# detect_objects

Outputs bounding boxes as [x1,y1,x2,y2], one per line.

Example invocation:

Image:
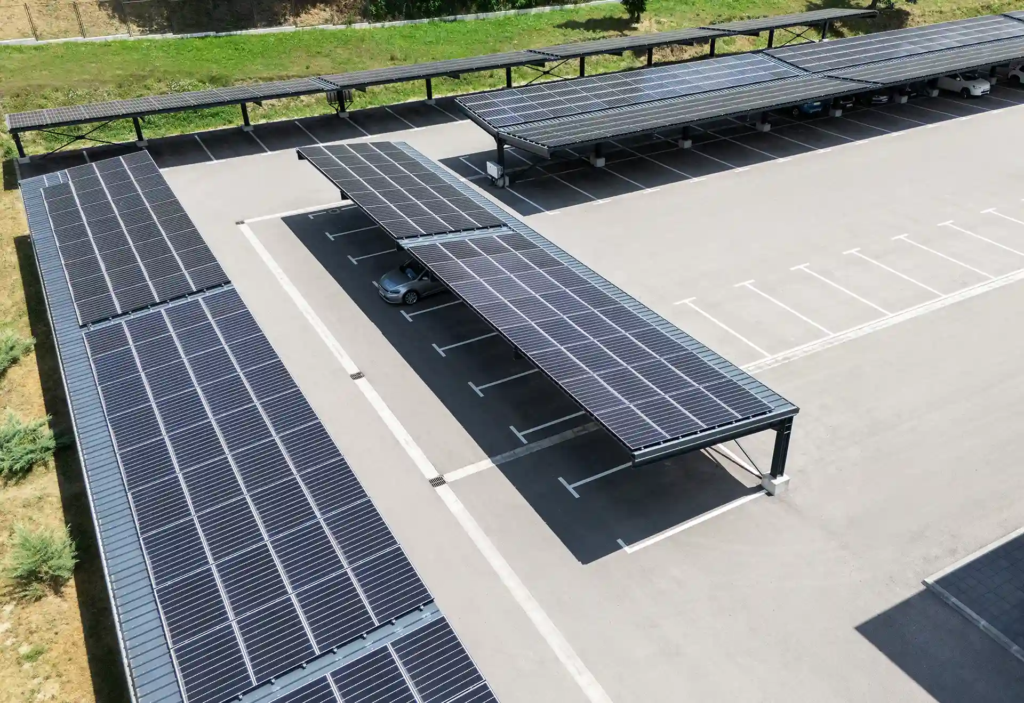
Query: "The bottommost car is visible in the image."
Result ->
[375,257,448,307]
